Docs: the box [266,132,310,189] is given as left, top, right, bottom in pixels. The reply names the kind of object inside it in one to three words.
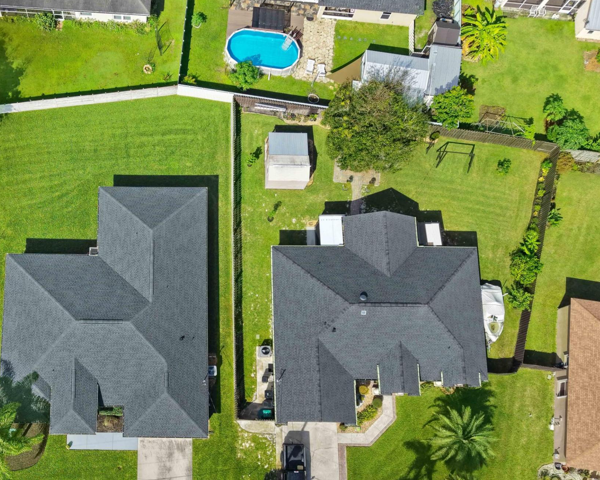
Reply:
shed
